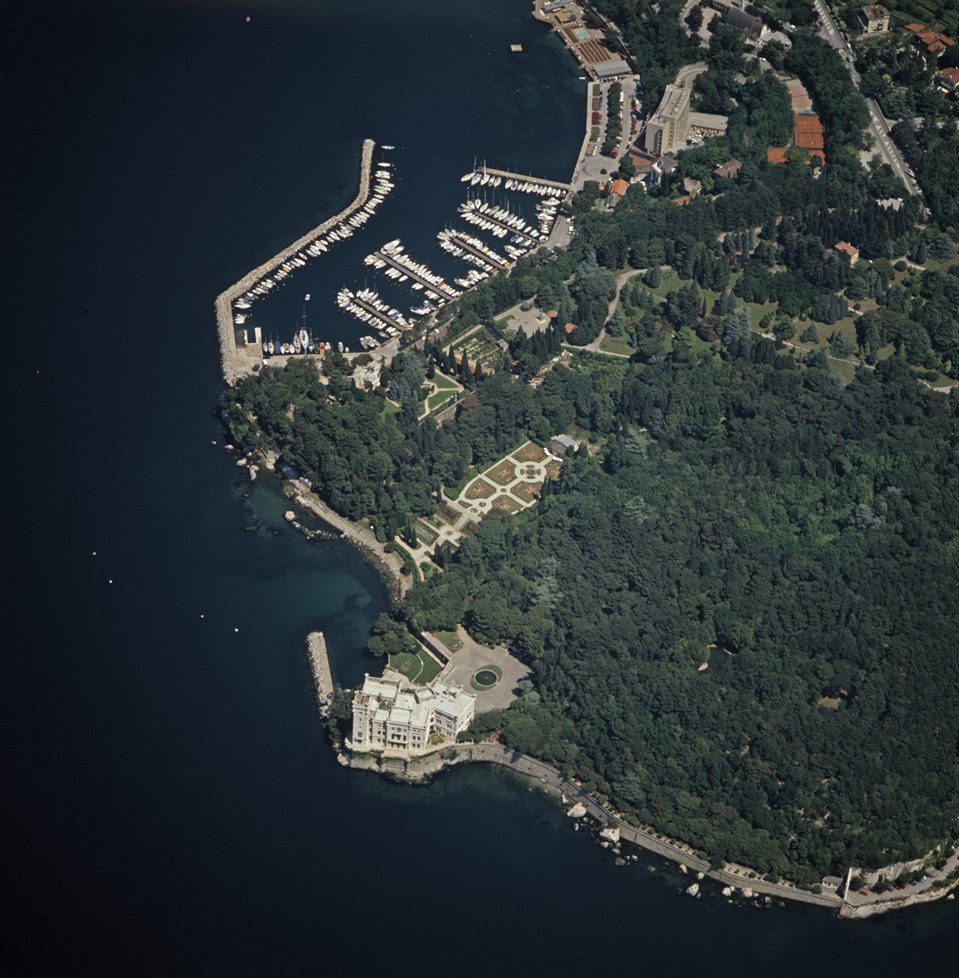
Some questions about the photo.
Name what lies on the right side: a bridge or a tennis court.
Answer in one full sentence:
You can see a tennis court on the right side.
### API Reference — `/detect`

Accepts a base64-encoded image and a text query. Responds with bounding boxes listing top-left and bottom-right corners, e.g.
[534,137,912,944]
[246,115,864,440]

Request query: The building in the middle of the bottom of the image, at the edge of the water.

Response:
[350,673,480,755]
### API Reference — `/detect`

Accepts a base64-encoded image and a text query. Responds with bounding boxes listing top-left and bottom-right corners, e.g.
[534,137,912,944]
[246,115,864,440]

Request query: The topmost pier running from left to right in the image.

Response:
[477,166,570,188]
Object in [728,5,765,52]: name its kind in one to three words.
building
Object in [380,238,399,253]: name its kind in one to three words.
boat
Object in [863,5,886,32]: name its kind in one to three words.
house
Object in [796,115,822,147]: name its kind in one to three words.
tennis court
